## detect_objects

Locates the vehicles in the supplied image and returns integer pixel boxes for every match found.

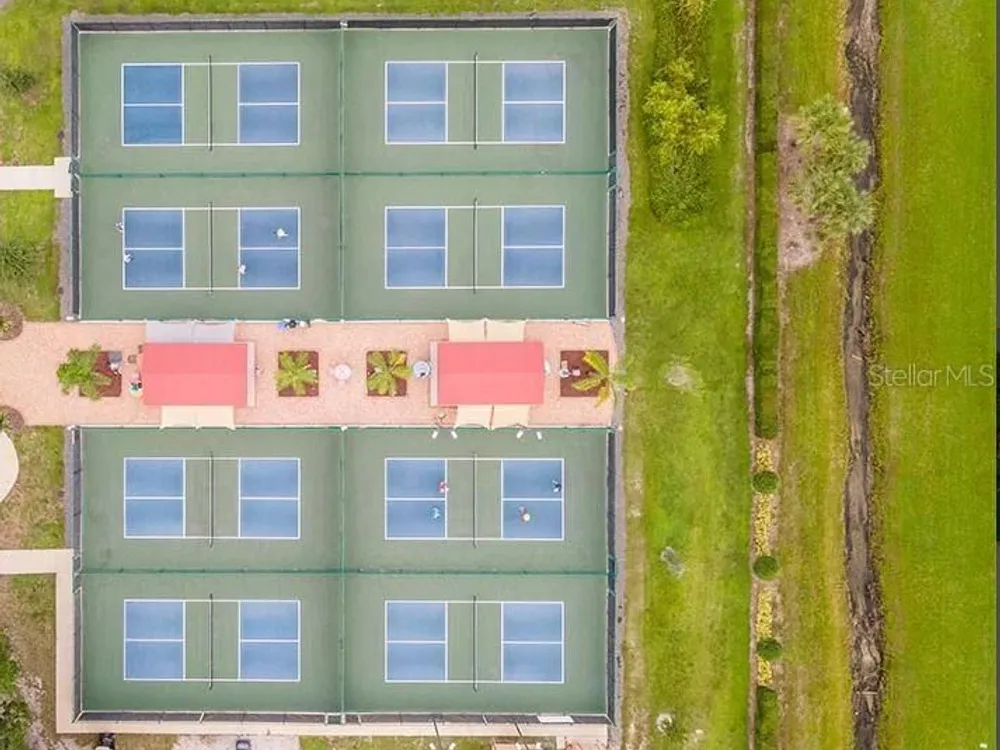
[94,734,116,750]
[233,740,252,750]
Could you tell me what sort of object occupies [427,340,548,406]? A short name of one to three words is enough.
building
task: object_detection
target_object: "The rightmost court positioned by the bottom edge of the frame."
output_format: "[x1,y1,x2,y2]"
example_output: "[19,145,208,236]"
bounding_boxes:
[343,571,605,714]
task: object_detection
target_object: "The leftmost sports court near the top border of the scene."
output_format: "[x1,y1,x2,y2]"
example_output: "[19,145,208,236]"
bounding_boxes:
[80,31,342,176]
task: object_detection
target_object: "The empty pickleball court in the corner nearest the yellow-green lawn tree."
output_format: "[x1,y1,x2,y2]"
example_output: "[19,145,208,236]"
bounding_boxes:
[343,29,607,175]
